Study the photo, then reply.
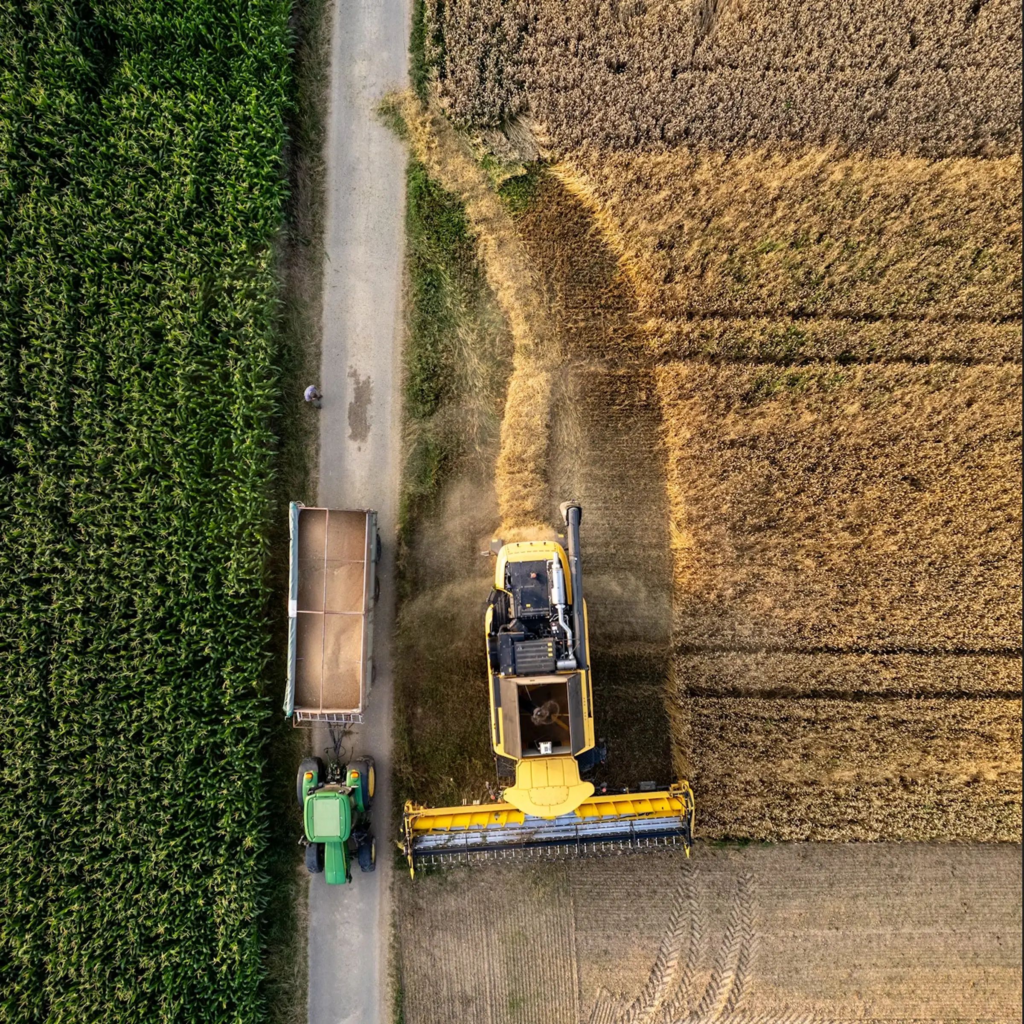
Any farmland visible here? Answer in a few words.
Yes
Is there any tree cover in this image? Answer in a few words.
No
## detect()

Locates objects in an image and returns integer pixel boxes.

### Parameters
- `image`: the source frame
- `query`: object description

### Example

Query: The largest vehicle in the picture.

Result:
[396,500,695,880]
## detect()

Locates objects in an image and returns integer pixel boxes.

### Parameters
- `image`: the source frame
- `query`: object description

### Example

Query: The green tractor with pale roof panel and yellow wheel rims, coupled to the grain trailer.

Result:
[298,745,378,885]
